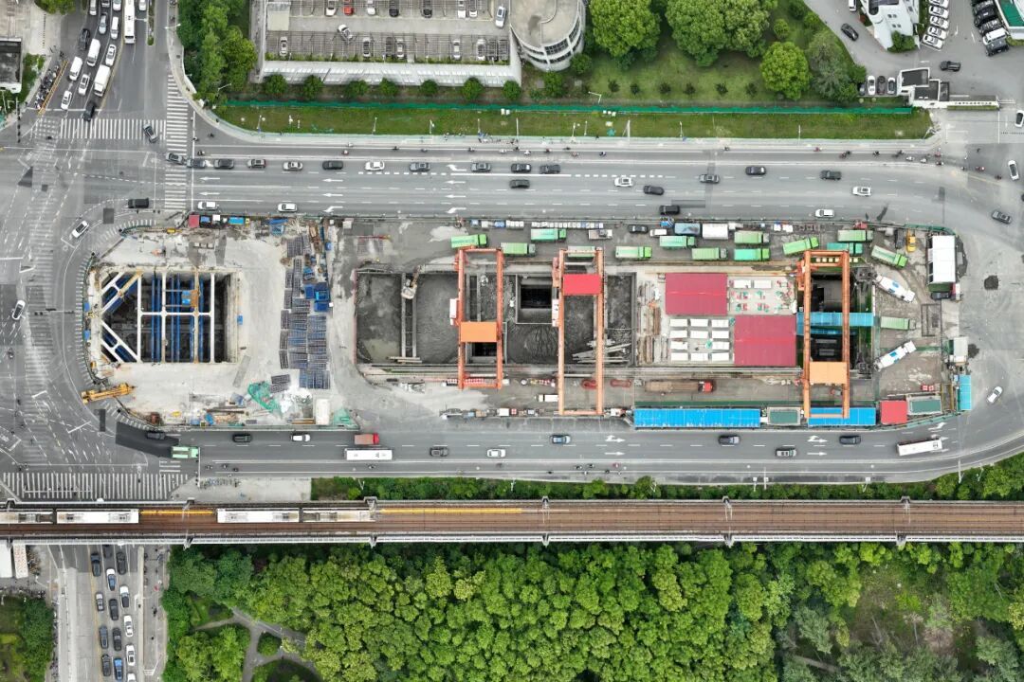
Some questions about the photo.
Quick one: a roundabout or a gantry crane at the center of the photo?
gantry crane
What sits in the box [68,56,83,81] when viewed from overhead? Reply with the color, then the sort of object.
white vehicle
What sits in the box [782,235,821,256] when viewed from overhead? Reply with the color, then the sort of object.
green truck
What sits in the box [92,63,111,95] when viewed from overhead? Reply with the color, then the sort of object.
white vehicle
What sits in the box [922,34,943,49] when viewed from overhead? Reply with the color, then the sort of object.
white car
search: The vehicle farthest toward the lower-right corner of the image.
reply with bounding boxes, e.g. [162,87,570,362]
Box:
[896,437,947,456]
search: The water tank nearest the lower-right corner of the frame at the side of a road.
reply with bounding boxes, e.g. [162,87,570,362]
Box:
[906,395,942,416]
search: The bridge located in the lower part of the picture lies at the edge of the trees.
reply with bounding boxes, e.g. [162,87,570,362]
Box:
[0,497,1024,549]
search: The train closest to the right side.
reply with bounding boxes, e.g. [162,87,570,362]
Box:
[217,507,378,522]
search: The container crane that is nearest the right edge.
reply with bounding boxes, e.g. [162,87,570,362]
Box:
[793,250,853,427]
